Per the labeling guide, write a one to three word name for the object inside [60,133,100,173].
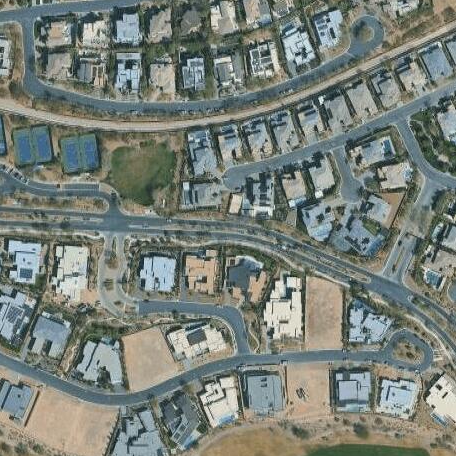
tennis court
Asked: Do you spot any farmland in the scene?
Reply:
No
